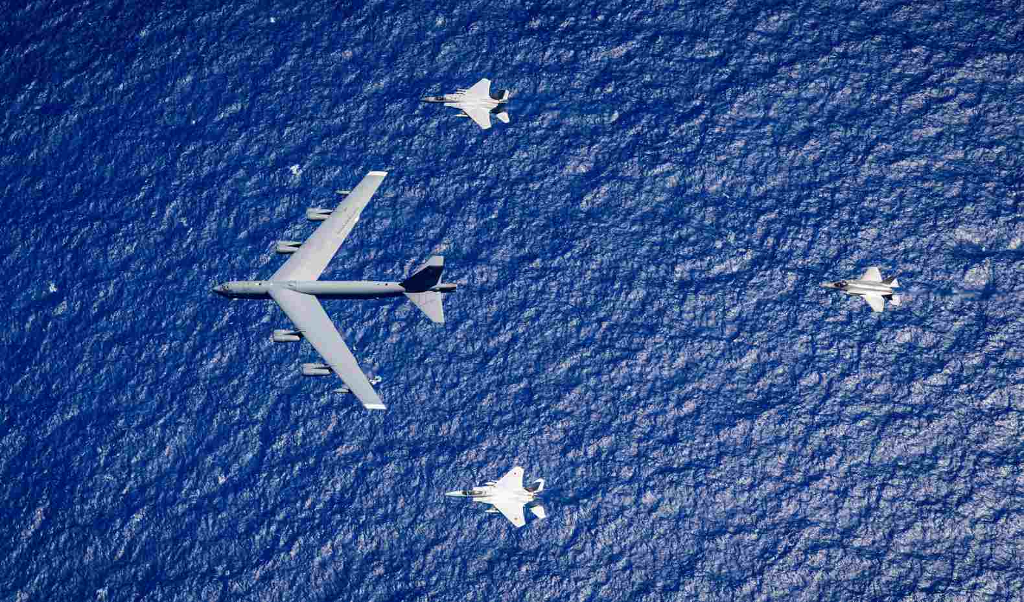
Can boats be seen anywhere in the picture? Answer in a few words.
No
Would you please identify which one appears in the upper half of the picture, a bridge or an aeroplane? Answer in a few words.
aeroplane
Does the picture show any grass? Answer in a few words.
No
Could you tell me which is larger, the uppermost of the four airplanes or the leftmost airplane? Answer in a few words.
the leftmost airplane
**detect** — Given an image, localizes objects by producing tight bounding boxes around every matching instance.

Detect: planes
[447,467,547,526]
[418,79,510,129]
[212,171,456,409]
[819,267,901,312]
